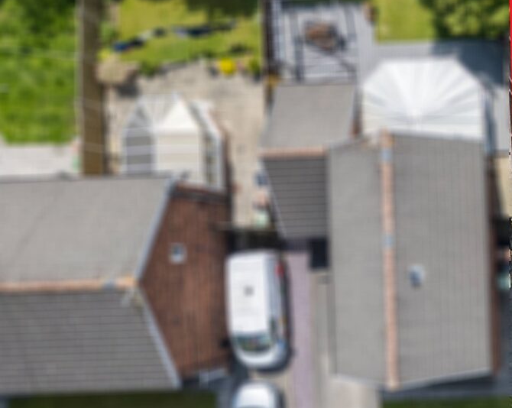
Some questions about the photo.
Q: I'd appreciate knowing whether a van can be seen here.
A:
Yes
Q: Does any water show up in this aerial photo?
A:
No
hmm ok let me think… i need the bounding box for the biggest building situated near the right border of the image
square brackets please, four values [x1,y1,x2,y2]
[328,130,498,392]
